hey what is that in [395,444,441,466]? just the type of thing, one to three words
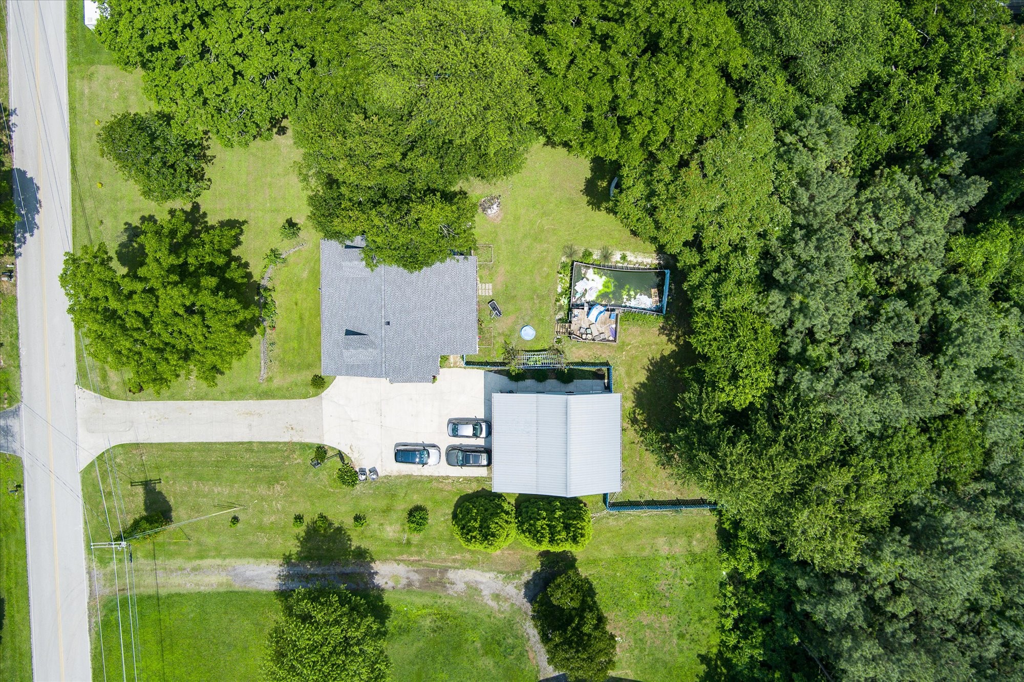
car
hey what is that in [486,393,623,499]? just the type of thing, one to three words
building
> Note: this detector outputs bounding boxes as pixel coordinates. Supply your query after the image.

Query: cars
[447,446,490,468]
[448,419,490,439]
[395,444,441,466]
